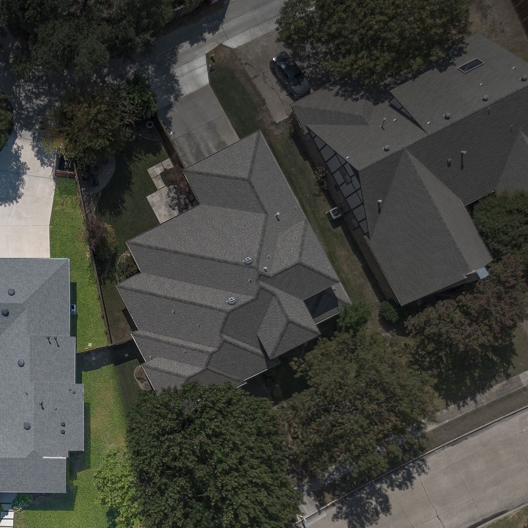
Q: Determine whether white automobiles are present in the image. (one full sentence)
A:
No, no white automobile can be seen from above.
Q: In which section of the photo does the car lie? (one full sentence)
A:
Look in the top portion of the view to spot the car.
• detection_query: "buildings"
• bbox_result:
[283,33,528,306]
[115,128,352,410]
[0,258,84,493]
